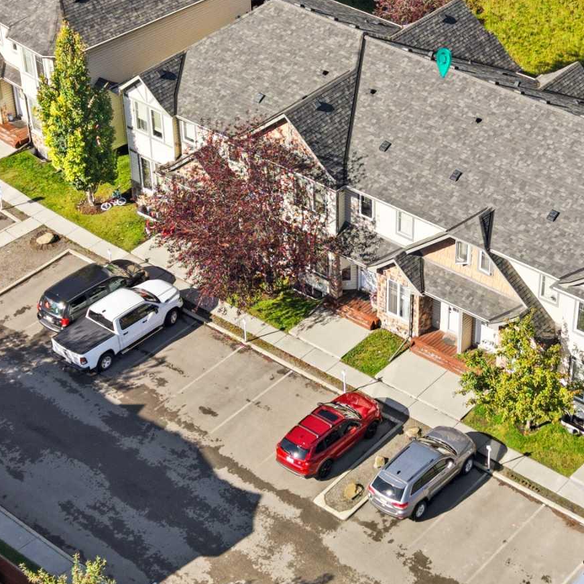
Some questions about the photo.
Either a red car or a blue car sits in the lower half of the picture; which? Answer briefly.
red car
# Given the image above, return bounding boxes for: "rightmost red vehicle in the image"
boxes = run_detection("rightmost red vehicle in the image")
[272,389,385,479]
